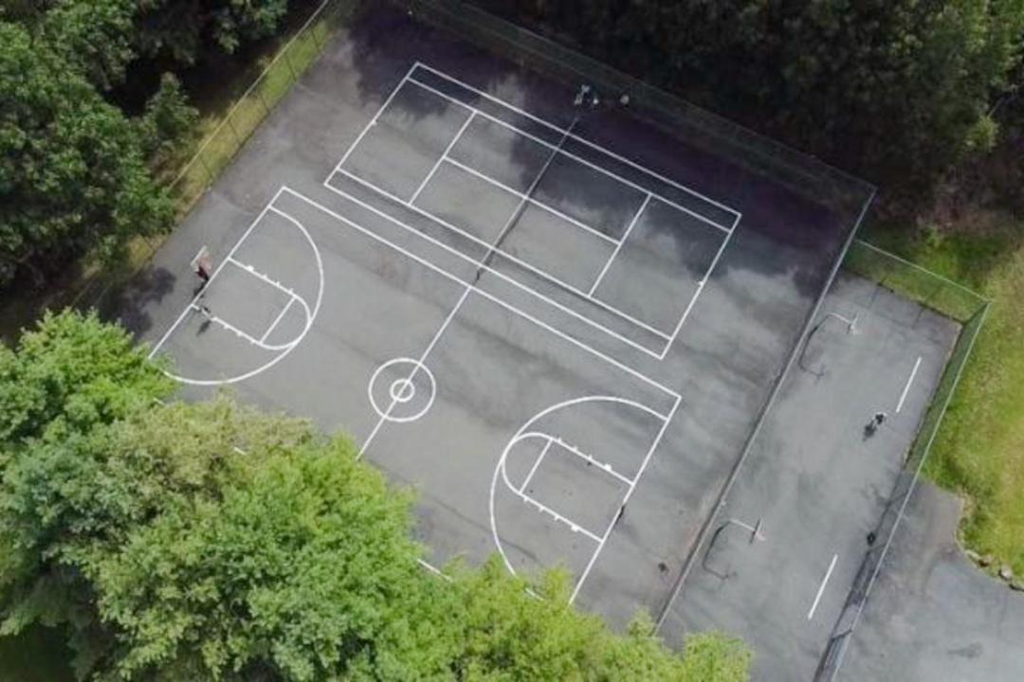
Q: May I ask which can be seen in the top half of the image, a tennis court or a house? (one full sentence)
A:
The one visible in the top half of the image is a tennis court.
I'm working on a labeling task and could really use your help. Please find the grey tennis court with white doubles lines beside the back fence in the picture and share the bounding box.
[323,61,742,361]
